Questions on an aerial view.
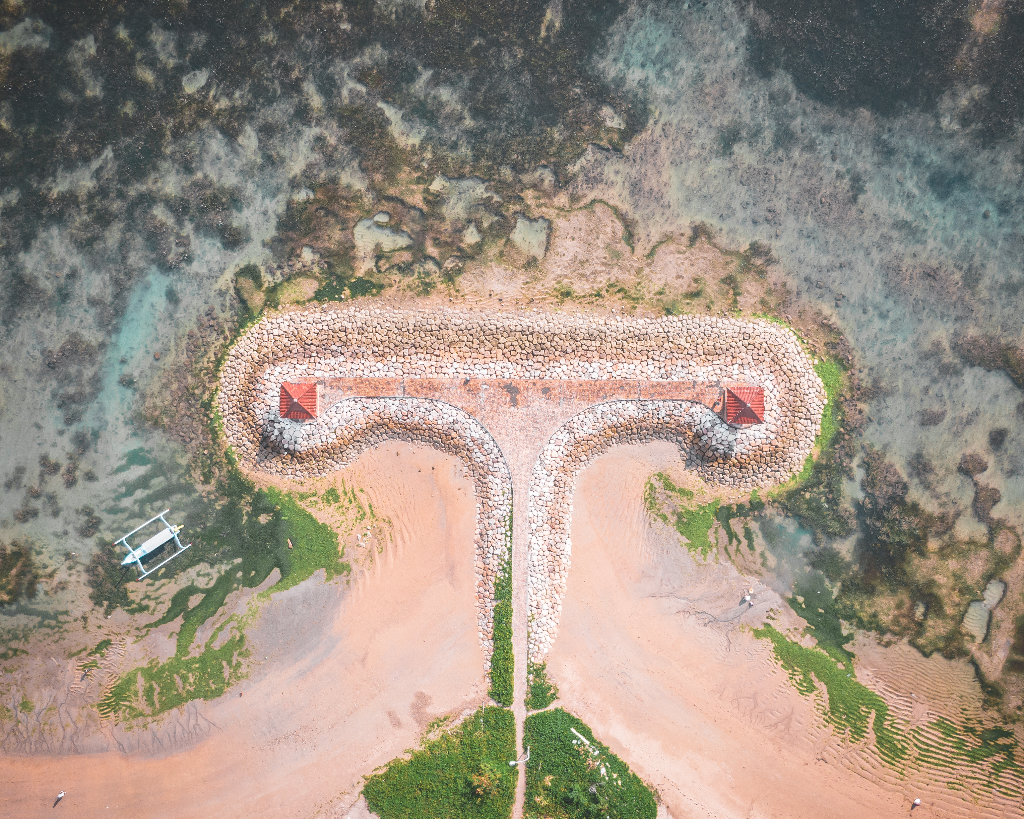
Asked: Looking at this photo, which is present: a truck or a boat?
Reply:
boat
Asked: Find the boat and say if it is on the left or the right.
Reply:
left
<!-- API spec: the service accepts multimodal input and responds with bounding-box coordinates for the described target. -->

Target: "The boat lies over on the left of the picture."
[112,508,193,582]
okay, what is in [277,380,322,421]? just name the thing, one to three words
gazebo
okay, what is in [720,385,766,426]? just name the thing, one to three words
gazebo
